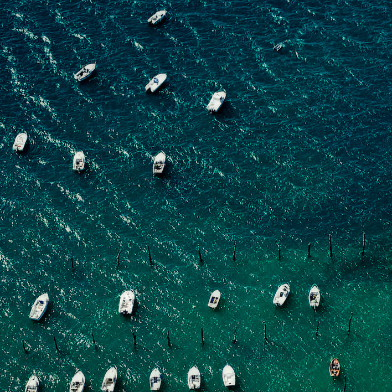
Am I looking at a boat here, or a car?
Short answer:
boat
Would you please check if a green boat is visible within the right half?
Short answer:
No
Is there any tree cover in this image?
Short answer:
No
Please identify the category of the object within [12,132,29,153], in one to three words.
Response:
boat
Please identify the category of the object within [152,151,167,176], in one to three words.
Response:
boat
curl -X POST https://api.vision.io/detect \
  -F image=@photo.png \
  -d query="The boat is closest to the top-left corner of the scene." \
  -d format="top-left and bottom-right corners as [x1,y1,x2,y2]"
[74,62,95,82]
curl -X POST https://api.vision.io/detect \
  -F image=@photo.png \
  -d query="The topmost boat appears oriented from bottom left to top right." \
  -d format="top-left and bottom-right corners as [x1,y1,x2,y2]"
[147,10,166,25]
